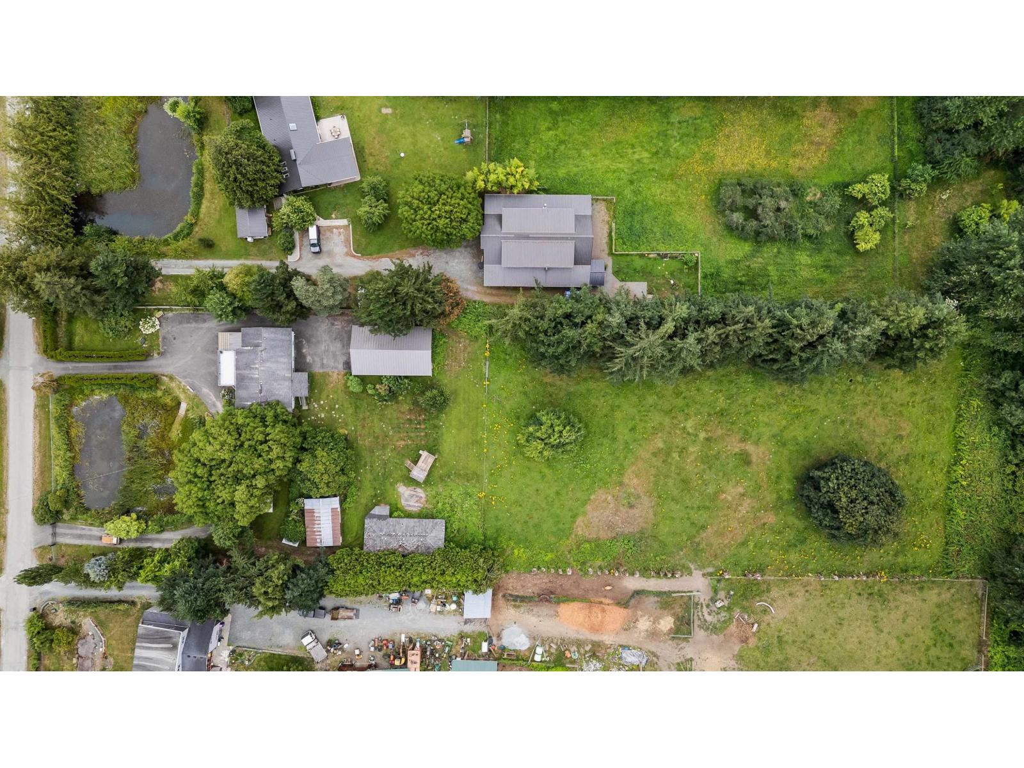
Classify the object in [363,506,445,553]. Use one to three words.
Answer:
shed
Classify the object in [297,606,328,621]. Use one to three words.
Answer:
vehicle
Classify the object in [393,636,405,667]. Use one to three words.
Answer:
vehicle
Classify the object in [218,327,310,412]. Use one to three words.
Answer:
house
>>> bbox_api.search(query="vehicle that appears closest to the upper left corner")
[306,225,320,255]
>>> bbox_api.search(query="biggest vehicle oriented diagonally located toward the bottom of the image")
[301,631,327,665]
